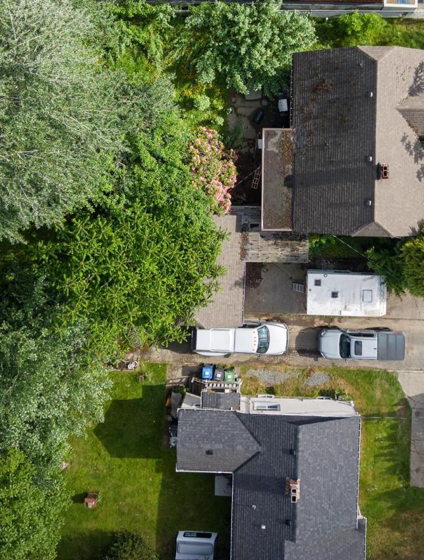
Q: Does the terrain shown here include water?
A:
No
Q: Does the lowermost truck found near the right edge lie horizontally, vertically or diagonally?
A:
horizontally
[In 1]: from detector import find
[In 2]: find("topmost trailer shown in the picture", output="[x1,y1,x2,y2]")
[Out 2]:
[304,269,397,315]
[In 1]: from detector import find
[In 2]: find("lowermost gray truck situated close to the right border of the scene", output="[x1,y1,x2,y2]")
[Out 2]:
[316,324,404,364]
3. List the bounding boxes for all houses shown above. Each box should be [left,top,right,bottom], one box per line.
[261,42,424,242]
[173,377,369,560]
